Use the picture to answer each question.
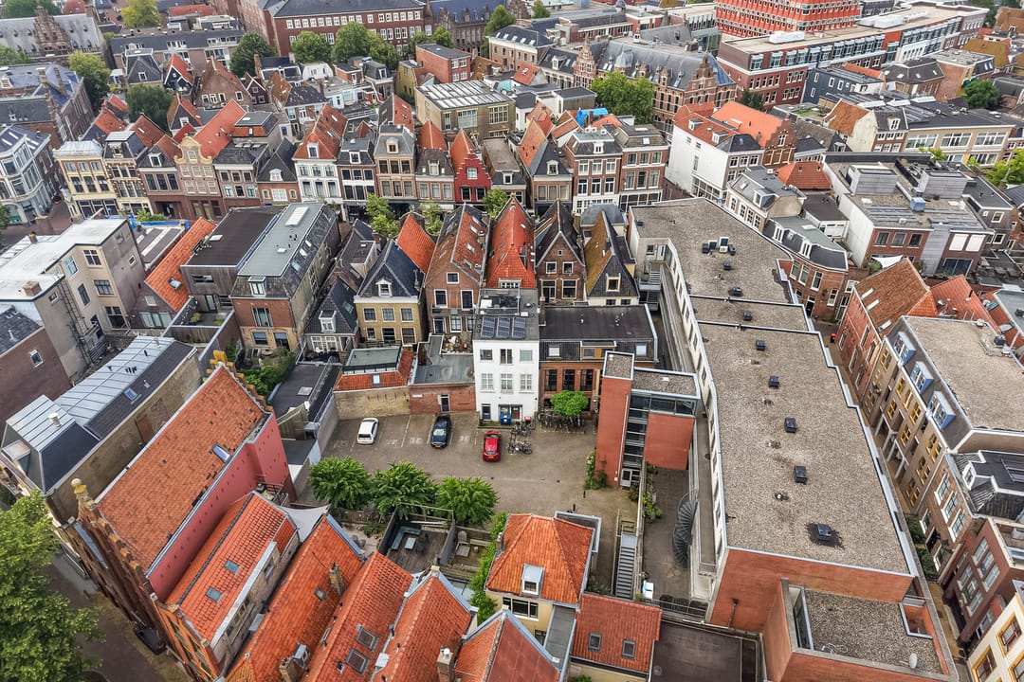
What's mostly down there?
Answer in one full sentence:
For the most part, this view shows buildings.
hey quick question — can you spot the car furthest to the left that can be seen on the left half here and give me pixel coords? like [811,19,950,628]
[351,418,379,450]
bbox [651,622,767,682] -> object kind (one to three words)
building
